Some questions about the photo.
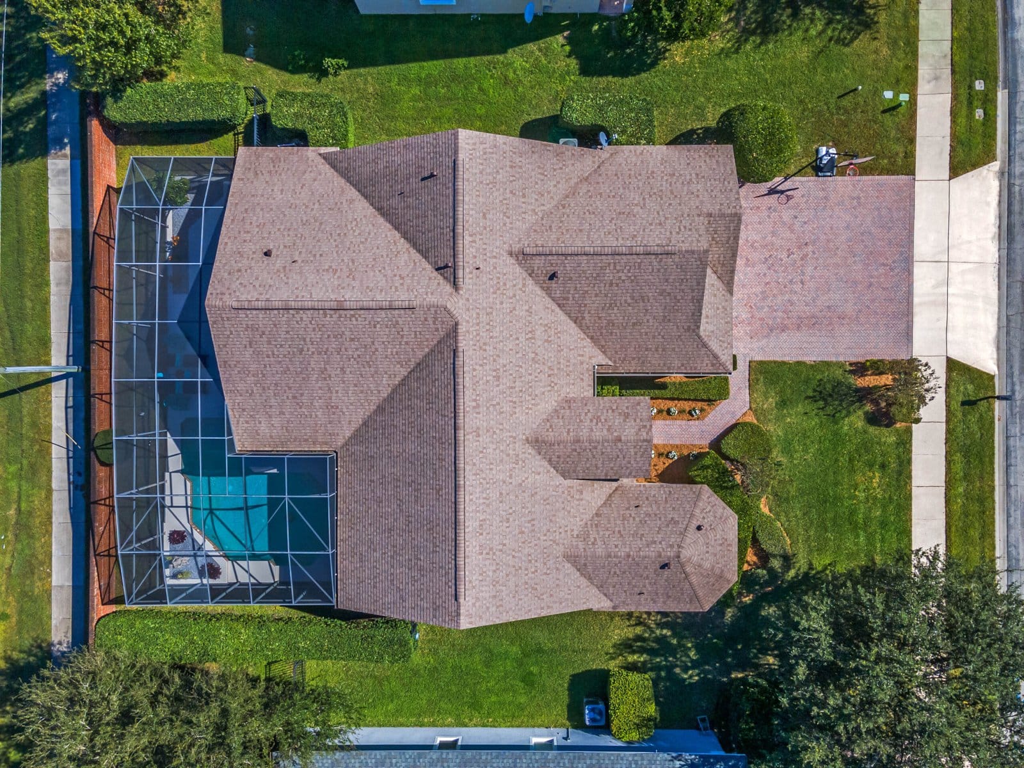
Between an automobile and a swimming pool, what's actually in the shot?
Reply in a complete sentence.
This aerial view contains a swimming pool.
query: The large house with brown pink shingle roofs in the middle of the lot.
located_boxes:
[205,127,743,629]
